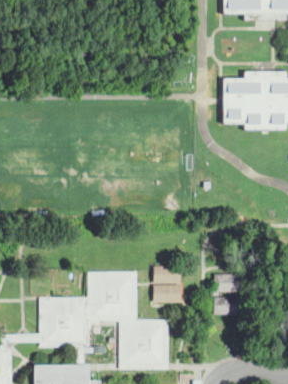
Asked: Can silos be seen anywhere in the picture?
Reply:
No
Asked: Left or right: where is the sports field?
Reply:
left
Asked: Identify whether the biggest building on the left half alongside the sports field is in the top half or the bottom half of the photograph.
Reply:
bottom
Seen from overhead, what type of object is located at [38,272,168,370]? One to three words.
building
